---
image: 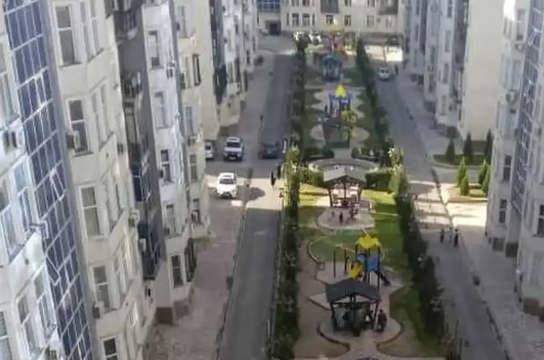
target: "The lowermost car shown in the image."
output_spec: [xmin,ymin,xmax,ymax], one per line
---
[214,168,238,196]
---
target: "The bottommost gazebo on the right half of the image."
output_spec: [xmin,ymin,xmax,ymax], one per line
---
[325,272,384,333]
